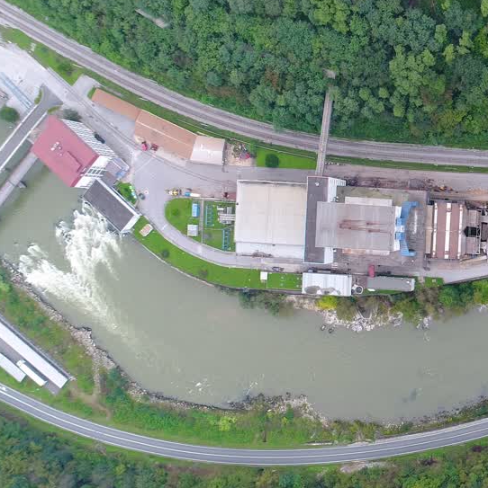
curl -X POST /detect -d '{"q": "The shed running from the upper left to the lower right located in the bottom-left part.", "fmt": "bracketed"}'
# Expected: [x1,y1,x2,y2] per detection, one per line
[0,355,29,382]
